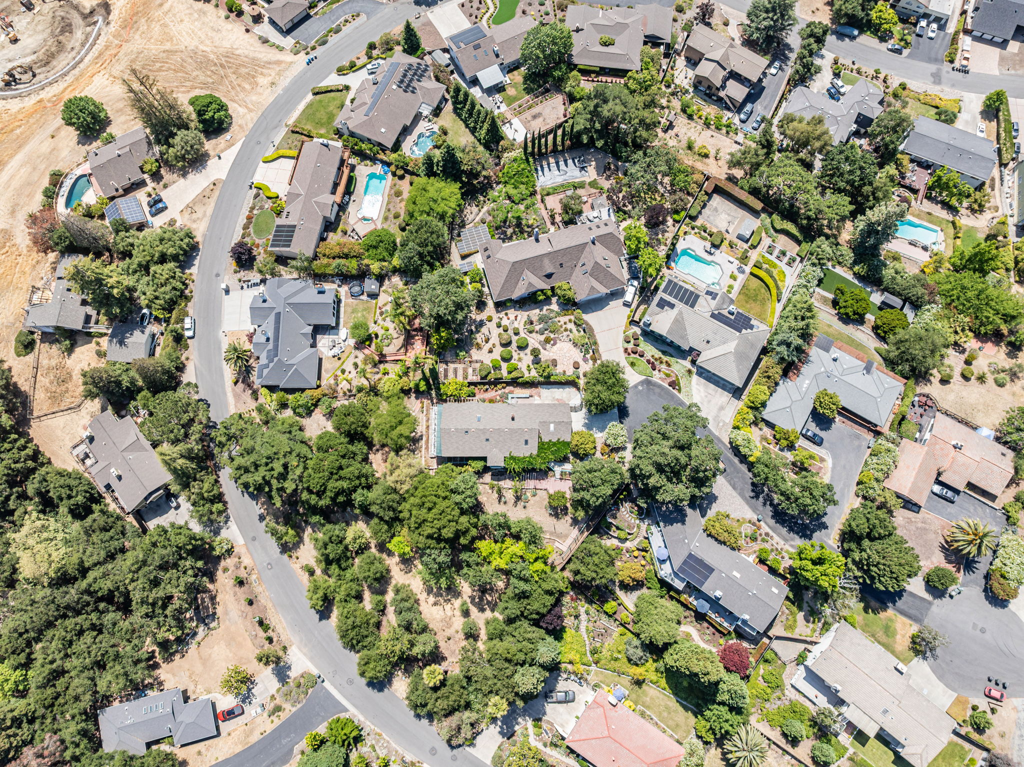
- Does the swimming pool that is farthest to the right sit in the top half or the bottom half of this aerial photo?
top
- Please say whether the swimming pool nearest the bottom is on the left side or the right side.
right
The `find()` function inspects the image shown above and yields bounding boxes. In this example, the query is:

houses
[445,15,534,89]
[761,339,907,434]
[898,115,999,184]
[88,130,158,199]
[780,78,884,150]
[107,322,156,363]
[886,0,955,26]
[247,278,336,389]
[100,688,220,765]
[968,0,1024,48]
[81,410,177,512]
[333,50,447,154]
[641,275,768,388]
[268,139,342,261]
[264,0,310,35]
[439,403,572,468]
[24,253,91,332]
[564,689,682,767]
[880,413,1014,506]
[653,501,789,633]
[479,219,627,304]
[565,0,673,77]
[810,620,956,767]
[683,24,769,100]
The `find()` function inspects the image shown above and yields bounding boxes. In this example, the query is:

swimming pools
[355,166,388,225]
[673,247,724,292]
[902,218,940,250]
[62,173,94,212]
[408,129,438,159]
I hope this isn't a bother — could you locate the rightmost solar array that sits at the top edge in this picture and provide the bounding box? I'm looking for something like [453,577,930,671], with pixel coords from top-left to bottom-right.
[448,24,487,48]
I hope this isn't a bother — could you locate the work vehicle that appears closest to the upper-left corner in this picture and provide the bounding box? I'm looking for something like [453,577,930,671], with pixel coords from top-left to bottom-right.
[0,20,21,43]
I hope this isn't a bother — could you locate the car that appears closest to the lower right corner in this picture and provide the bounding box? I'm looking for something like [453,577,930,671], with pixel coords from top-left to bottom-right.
[986,688,1009,702]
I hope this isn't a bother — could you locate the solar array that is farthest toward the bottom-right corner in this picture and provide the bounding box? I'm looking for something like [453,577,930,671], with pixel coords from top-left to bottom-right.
[676,553,714,580]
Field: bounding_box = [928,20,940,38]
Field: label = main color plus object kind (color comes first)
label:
white vehicle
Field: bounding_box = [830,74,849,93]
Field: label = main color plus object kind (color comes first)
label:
white vehicle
